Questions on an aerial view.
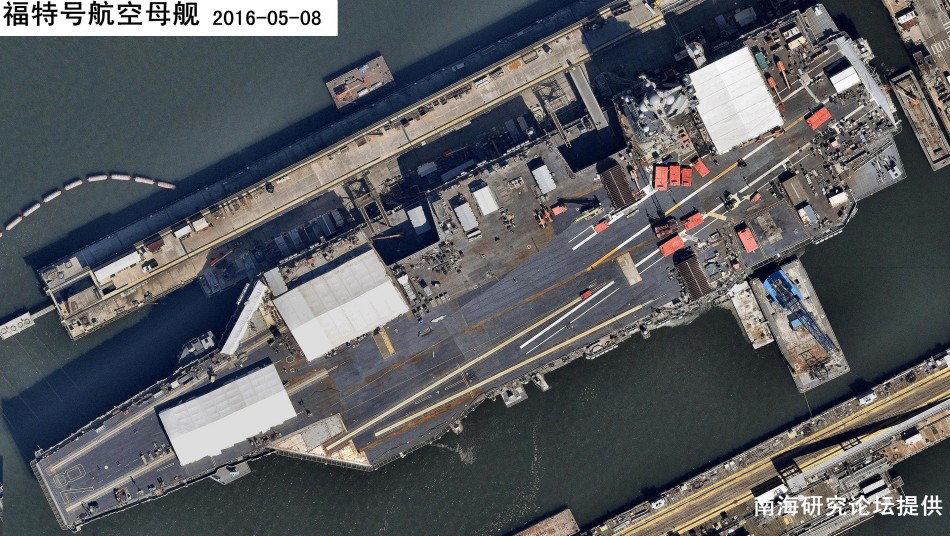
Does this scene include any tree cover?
No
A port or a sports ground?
port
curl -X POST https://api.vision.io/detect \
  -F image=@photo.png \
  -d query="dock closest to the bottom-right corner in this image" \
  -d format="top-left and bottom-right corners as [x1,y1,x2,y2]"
[576,344,950,536]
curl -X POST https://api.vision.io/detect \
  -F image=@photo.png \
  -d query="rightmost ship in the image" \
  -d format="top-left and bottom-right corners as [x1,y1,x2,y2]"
[890,70,950,172]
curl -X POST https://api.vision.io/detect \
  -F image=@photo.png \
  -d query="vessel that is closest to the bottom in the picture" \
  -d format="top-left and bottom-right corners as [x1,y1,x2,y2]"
[516,508,581,536]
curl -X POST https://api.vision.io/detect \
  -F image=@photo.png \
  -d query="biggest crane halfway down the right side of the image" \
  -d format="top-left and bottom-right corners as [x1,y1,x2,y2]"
[764,270,843,361]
